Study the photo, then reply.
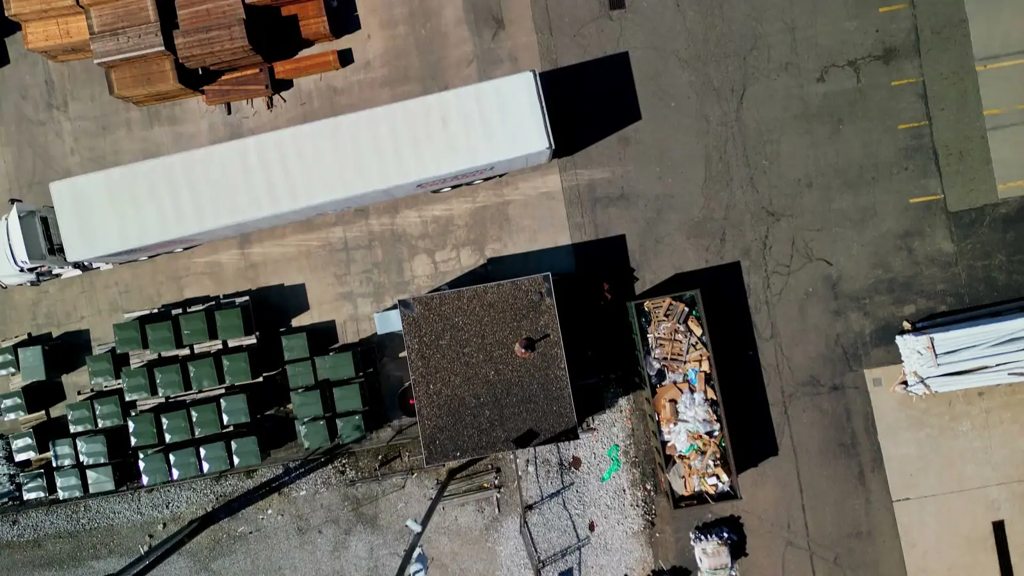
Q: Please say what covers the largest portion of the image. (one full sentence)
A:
What you mostly see from above here is paved ground.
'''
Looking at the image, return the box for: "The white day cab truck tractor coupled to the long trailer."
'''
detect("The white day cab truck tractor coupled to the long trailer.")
[0,196,192,291]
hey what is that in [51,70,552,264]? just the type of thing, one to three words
trailer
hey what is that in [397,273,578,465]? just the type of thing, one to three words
building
